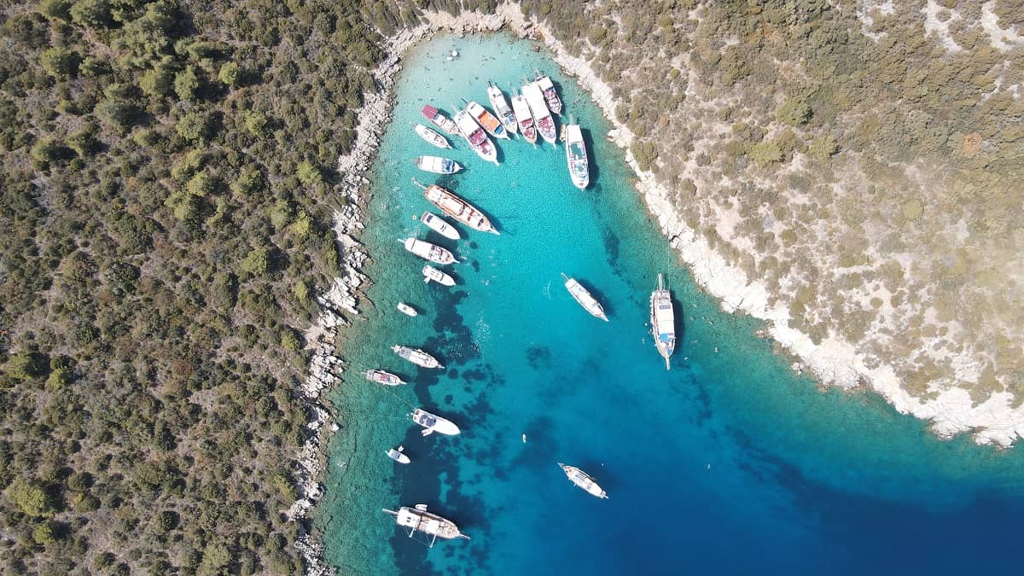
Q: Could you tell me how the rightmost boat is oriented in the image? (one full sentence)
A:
From this overhead view, the rightmost boat appears to run from top to bottom.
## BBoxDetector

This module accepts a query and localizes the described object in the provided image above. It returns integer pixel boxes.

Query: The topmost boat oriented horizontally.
[412,155,463,175]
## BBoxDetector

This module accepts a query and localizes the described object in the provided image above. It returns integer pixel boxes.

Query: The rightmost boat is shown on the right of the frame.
[649,273,679,370]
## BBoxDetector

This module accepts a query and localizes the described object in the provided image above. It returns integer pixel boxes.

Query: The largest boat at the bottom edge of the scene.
[382,508,470,548]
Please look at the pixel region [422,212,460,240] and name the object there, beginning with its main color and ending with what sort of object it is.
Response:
white boat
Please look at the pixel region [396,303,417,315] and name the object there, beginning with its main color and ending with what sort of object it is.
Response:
white boat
